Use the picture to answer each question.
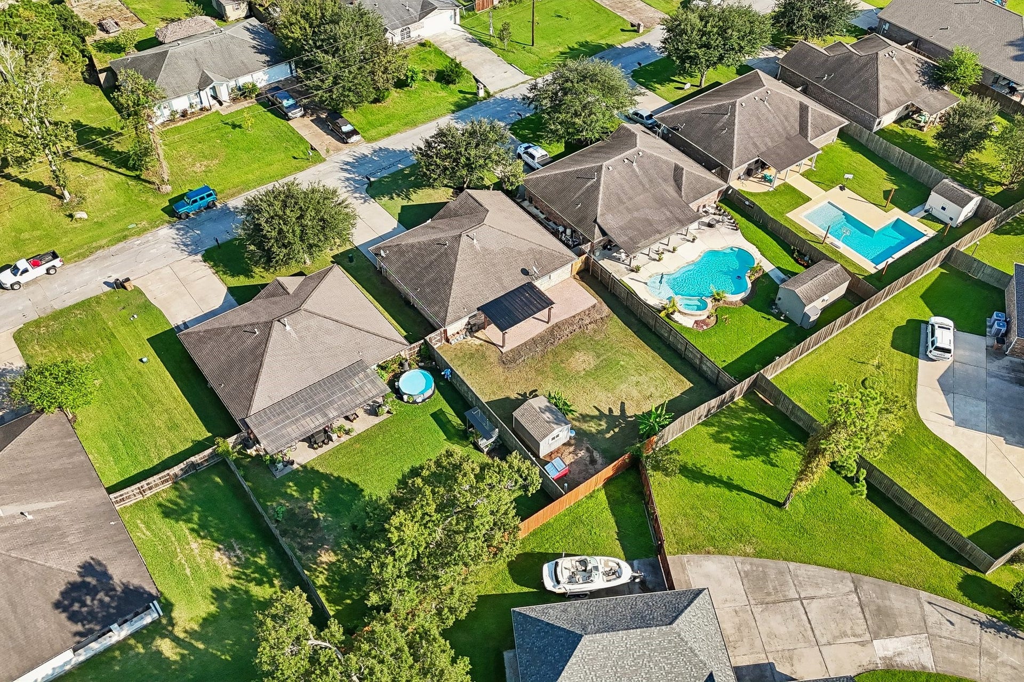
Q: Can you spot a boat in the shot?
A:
Yes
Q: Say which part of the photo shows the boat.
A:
bottom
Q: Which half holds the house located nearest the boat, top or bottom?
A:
bottom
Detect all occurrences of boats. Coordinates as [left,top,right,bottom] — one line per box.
[543,551,633,588]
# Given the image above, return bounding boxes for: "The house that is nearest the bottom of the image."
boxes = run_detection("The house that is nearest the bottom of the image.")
[511,587,735,682]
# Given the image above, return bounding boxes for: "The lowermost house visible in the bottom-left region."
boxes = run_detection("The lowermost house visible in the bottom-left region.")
[0,398,168,682]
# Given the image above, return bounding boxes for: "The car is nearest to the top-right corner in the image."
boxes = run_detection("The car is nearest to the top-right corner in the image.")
[925,312,955,357]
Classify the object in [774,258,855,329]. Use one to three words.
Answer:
shed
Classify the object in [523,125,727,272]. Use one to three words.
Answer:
house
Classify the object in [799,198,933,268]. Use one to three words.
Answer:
swimming pool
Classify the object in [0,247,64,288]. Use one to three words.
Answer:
truck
